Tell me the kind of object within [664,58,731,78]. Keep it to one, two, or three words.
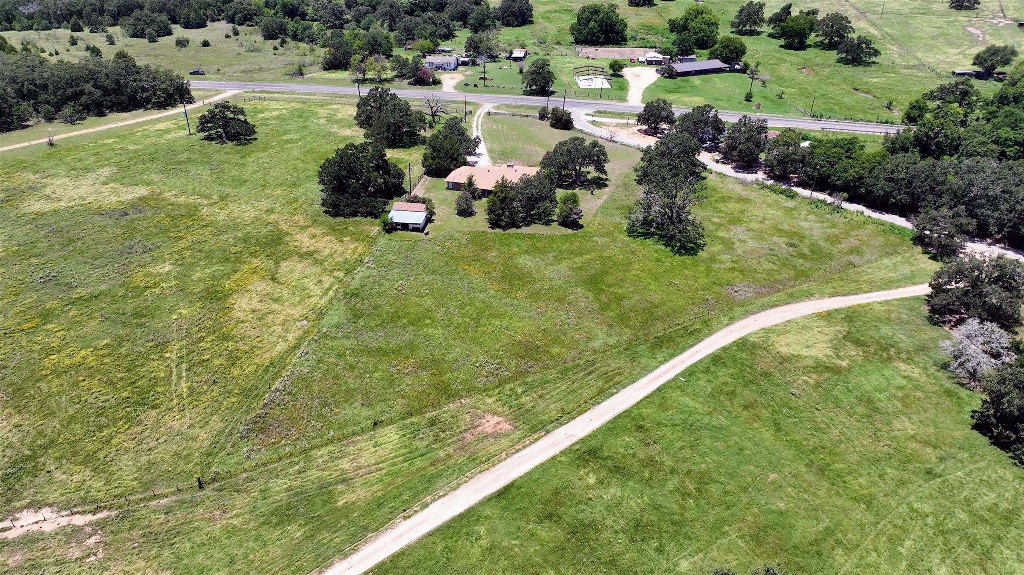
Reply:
house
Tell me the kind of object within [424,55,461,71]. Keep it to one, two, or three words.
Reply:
house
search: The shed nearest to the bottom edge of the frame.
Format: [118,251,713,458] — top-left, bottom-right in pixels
[387,200,431,231]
